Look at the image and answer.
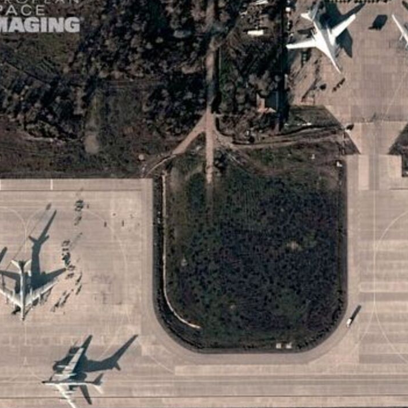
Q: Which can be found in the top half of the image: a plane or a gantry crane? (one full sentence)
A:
The one visible in the top half of the image is a plane.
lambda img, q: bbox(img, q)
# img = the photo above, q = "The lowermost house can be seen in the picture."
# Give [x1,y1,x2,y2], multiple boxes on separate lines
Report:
[258,93,276,111]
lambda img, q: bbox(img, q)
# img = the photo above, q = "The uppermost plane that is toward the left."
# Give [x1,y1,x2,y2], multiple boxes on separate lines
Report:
[0,259,55,320]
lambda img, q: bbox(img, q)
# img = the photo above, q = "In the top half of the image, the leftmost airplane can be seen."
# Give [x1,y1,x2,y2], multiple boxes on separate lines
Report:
[287,8,356,73]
